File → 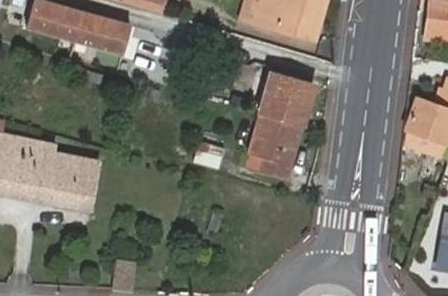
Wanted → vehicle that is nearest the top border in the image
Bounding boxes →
[138,42,163,56]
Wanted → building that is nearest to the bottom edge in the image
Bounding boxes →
[112,260,136,293]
